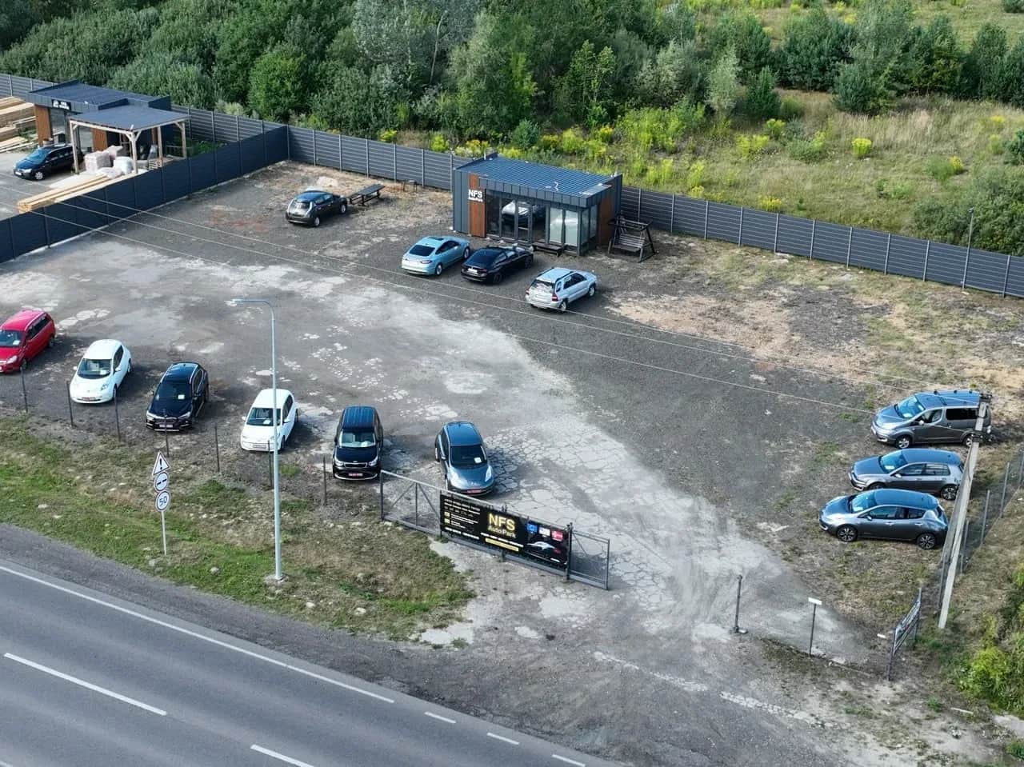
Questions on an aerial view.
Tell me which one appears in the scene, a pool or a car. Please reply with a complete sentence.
I can see a car in this picture.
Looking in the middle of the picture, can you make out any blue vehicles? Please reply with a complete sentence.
Yes, there is a blue vehicle in the middle of the picture.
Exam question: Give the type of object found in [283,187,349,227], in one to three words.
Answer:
car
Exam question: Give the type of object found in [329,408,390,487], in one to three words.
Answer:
car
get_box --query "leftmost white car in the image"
[70,338,135,403]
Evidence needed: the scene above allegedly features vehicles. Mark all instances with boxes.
[147,355,216,425]
[399,235,473,276]
[329,408,390,487]
[70,338,135,403]
[821,487,953,549]
[523,263,600,312]
[872,387,998,447]
[283,187,349,227]
[10,138,85,180]
[0,306,56,371]
[458,243,536,283]
[433,417,496,494]
[853,443,974,499]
